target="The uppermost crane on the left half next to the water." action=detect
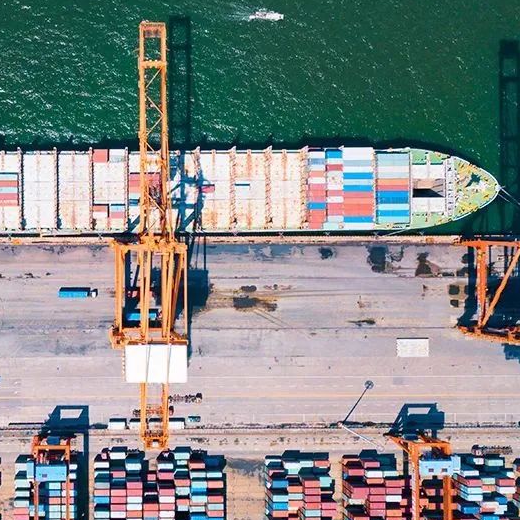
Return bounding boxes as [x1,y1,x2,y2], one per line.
[107,22,184,453]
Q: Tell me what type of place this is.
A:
port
